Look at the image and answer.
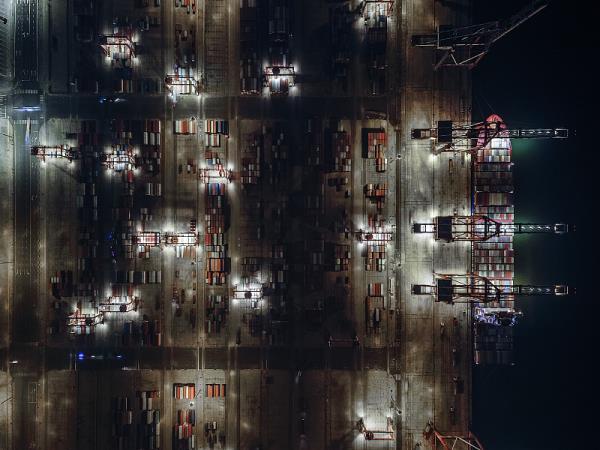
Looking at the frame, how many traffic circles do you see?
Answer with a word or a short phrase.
none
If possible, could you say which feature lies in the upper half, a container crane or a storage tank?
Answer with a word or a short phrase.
container crane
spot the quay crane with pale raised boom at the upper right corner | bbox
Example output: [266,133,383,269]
[411,0,554,76]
